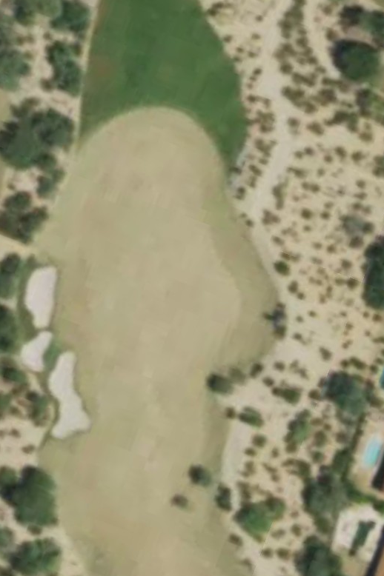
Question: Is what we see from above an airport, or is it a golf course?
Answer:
golf course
